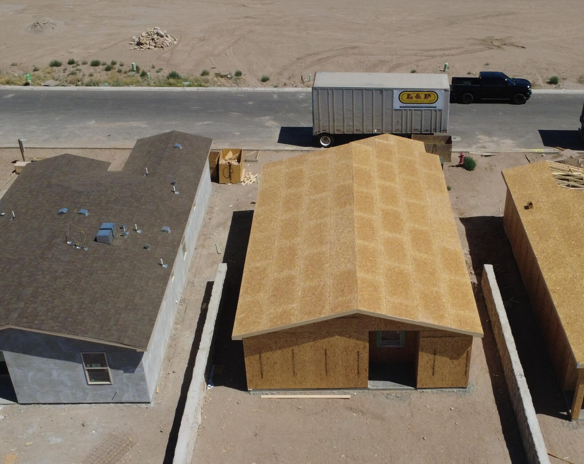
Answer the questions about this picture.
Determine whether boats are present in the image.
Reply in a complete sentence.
No, I find no boat anywhere in the image.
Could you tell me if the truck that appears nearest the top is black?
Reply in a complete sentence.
Yes, the truck that appears nearest the top is indeed black.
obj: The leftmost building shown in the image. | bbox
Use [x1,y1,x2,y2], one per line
[0,131,213,410]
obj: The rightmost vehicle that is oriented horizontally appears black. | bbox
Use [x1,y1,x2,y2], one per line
[451,71,537,105]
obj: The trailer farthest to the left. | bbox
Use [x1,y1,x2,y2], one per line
[312,74,451,145]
